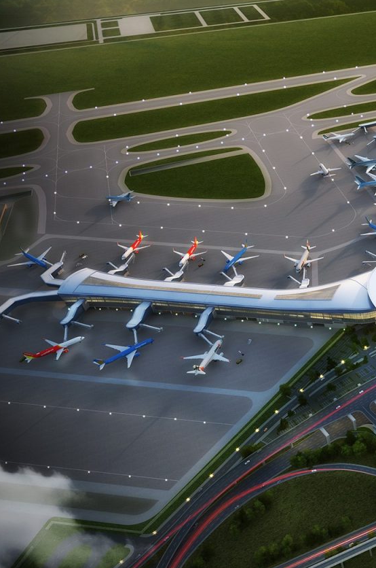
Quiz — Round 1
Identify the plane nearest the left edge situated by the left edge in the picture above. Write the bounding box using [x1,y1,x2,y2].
[7,242,52,266]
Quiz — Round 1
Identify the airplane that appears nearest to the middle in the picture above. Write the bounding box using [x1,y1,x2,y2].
[173,237,209,266]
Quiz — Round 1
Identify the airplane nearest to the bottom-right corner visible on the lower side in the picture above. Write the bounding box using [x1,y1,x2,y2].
[185,343,222,372]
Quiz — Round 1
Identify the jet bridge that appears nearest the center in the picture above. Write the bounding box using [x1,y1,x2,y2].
[161,259,190,283]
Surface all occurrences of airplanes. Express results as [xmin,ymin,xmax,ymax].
[221,243,255,272]
[118,230,155,260]
[348,154,376,171]
[185,343,222,372]
[20,335,85,363]
[287,243,323,273]
[315,165,339,176]
[173,237,209,266]
[357,172,376,189]
[7,242,52,266]
[323,132,355,143]
[95,340,154,366]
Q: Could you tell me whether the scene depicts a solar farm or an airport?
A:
airport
